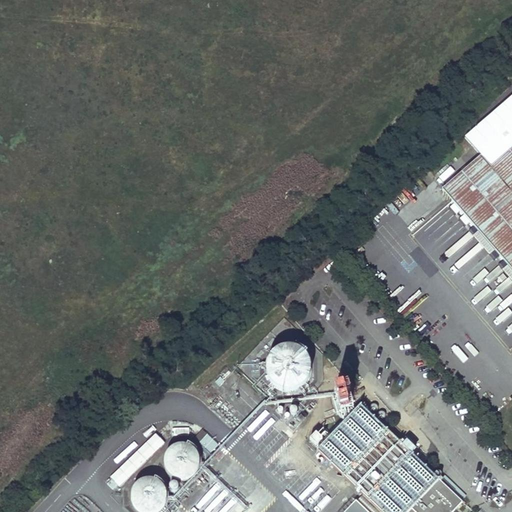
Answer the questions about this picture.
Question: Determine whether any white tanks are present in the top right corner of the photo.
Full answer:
No, looking in the top right corner of the photo, there is no white tank.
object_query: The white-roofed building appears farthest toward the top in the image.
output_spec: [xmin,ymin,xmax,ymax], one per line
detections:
[465,94,512,166]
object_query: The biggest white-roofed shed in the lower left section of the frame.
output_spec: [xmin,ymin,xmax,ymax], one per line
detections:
[111,433,165,487]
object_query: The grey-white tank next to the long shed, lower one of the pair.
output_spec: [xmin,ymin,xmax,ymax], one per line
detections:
[130,475,169,512]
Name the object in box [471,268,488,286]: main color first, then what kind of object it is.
white vehicle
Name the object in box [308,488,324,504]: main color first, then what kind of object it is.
white vehicle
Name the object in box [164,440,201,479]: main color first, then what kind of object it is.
white storage tank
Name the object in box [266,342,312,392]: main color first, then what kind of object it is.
white storage tank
